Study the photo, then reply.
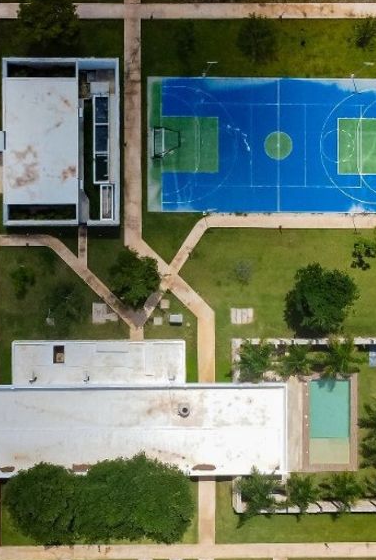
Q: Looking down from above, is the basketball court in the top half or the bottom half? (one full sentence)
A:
Seen from above, the basketball court lies in the top half of the view.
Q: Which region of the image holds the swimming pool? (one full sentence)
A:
You can find the swimming pool in the bottom right area of the picture.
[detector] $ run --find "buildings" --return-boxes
[0,339,287,478]
[0,58,119,227]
